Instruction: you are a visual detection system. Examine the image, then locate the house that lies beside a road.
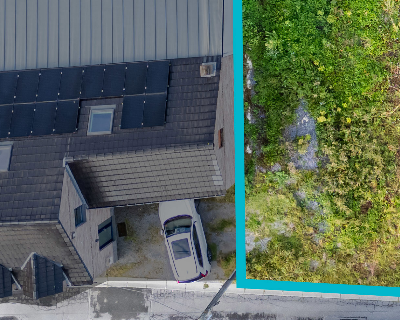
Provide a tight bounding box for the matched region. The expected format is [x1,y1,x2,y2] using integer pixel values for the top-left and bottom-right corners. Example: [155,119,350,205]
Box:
[0,0,242,301]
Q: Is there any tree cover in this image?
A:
No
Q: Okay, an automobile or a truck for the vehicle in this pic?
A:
automobile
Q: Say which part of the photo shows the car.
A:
bottom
